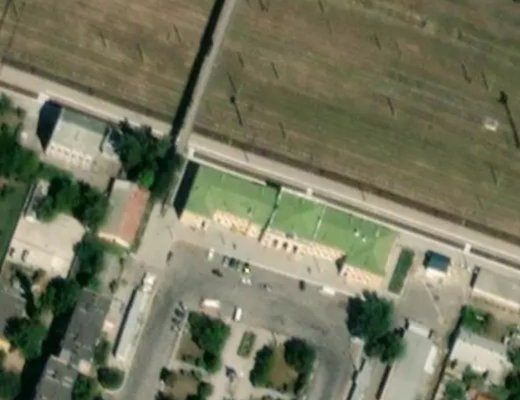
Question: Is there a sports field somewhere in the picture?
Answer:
No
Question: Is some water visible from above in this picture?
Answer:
No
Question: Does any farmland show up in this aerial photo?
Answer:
No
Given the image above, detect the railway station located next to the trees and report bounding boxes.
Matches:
[0,65,520,288]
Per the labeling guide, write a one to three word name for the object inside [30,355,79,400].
building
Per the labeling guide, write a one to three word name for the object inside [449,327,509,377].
house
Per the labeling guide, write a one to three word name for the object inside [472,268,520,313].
building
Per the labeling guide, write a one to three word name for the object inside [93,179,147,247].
house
